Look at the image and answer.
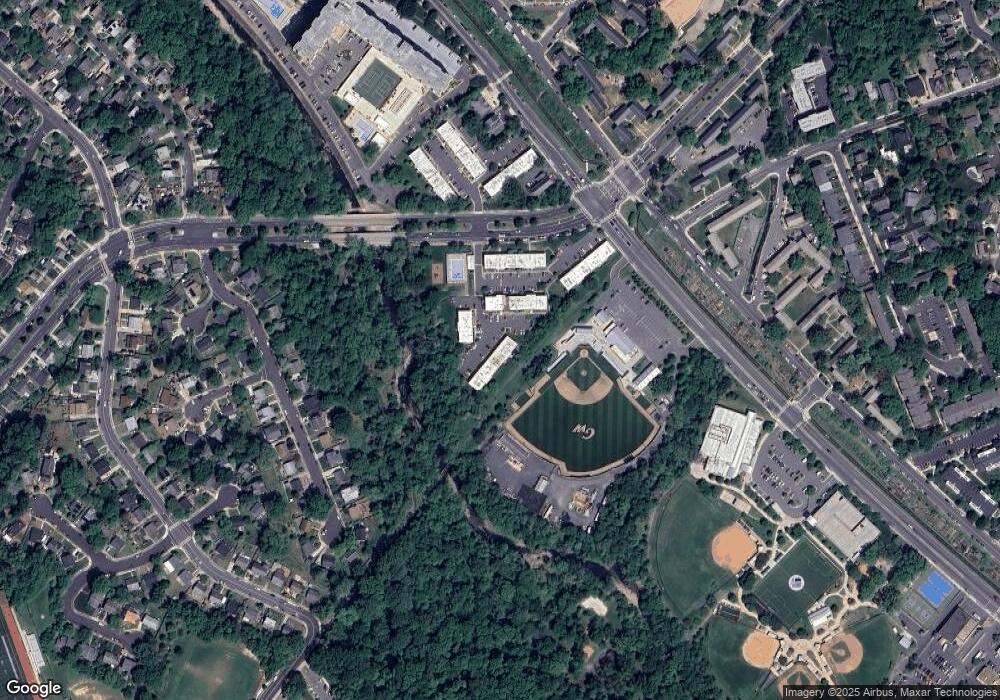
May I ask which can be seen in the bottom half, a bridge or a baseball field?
baseball field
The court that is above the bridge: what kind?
tennis court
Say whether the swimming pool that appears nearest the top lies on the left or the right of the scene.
left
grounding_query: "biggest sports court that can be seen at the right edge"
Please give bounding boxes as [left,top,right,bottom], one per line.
[904,567,961,620]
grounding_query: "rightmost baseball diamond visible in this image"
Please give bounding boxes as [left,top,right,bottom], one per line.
[820,612,898,700]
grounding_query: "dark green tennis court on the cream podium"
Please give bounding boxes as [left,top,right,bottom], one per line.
[353,57,401,108]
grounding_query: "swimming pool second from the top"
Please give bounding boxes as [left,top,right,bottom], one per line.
[345,112,377,150]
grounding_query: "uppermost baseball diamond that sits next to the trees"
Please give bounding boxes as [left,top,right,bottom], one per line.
[504,309,664,476]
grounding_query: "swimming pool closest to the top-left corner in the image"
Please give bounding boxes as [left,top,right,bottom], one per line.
[257,0,296,30]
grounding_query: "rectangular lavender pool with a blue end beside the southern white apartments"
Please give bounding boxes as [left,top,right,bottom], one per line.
[446,253,466,283]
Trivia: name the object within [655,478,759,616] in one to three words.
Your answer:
baseball field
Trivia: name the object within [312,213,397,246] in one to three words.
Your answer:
bridge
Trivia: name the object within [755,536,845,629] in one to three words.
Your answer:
sports field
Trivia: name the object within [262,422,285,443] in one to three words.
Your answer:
house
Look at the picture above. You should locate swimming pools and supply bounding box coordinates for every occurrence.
[446,253,466,283]
[257,0,296,30]
[345,112,377,150]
